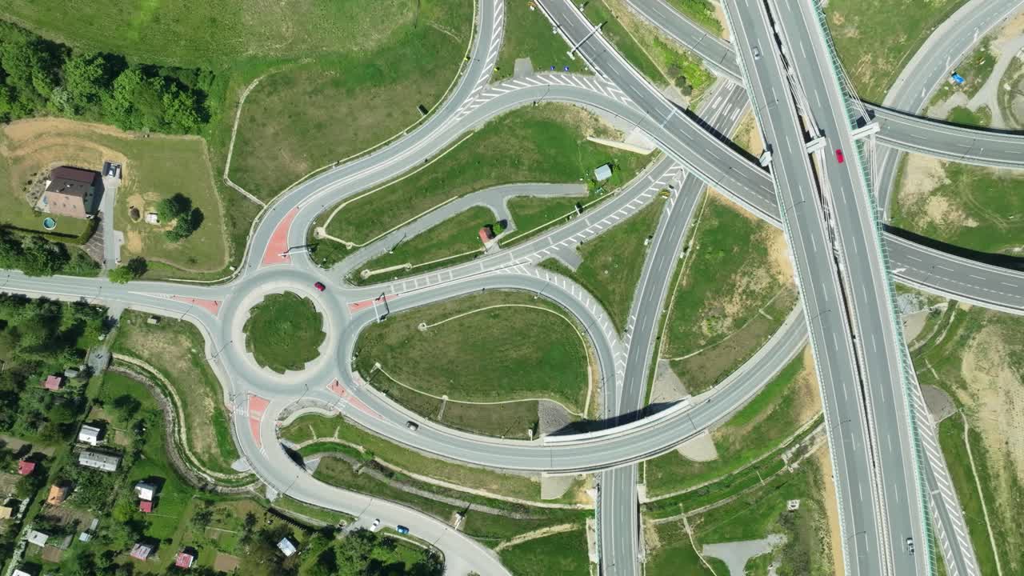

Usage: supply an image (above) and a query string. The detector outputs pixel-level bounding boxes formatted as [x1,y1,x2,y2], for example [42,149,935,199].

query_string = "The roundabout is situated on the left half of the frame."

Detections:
[215,263,352,401]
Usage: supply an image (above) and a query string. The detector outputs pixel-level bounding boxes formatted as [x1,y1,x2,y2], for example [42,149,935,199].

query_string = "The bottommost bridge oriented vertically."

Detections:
[597,487,639,576]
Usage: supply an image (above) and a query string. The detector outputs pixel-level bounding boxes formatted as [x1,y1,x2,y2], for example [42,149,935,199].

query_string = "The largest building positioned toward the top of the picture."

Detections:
[41,162,105,220]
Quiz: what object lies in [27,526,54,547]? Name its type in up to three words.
house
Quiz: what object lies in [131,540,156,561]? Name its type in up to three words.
house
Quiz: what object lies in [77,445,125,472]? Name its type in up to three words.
shed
